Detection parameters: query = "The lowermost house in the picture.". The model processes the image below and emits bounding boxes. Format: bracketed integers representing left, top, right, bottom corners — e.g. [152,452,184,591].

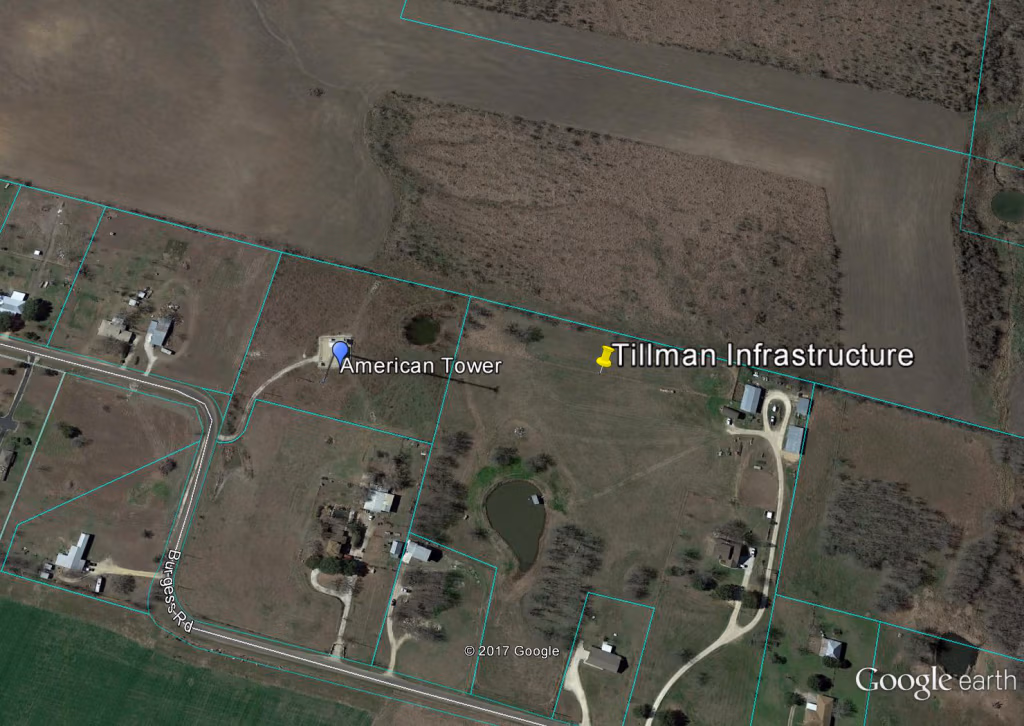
[802,694,833,726]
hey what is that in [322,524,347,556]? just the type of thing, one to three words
house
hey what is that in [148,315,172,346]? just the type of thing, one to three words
house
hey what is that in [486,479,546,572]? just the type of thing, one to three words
pond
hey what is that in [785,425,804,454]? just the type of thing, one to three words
barn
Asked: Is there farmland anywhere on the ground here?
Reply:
Yes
